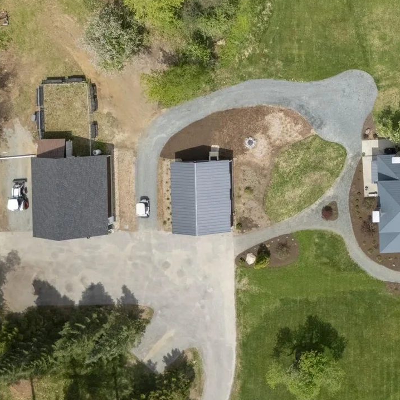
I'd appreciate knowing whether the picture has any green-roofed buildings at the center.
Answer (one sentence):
No, the scene shows no green-roofed building at the center.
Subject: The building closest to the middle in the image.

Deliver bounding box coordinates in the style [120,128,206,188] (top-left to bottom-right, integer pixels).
[170,160,235,236]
